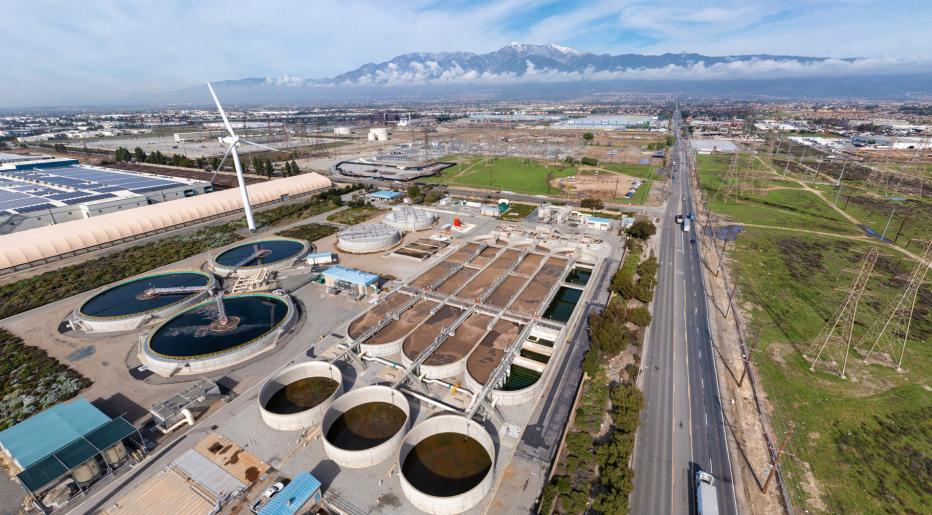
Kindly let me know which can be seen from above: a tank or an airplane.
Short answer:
tank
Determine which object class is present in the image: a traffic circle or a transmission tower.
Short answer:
transmission tower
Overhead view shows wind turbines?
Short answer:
Yes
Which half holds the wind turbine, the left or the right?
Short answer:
left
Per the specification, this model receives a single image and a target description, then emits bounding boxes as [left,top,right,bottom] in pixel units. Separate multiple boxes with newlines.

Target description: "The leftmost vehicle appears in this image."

[250,483,287,514]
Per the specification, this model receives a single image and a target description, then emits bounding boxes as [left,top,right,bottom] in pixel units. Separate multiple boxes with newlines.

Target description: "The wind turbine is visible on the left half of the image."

[211,85,279,232]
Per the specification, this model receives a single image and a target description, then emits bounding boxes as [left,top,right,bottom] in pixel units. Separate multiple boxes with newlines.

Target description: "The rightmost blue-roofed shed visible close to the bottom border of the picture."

[260,472,322,515]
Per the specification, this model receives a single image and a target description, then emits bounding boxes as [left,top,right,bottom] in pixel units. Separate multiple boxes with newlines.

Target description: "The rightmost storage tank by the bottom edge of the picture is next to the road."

[399,414,496,513]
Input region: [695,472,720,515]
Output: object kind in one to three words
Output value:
truck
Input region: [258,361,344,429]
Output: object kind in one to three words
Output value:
storage tank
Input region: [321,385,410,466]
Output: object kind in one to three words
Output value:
storage tank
